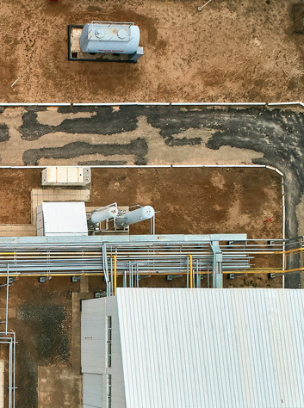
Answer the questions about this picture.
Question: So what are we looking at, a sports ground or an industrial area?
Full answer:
It's an industrial area.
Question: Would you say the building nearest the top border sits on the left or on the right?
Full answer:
The building nearest the top border sits on the left side.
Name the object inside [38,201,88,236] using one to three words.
building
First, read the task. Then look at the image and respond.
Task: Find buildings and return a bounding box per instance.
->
[38,201,88,236]
[82,286,304,408]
